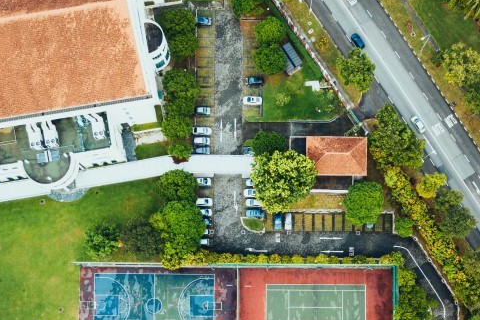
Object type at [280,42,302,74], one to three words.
shed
